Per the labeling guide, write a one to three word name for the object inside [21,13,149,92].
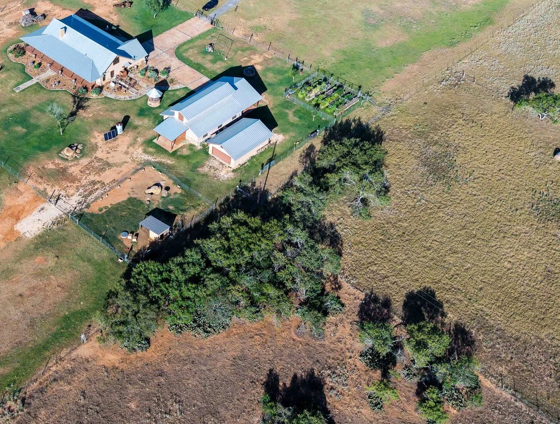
house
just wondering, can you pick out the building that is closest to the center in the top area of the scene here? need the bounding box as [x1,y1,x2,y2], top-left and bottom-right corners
[207,118,273,168]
